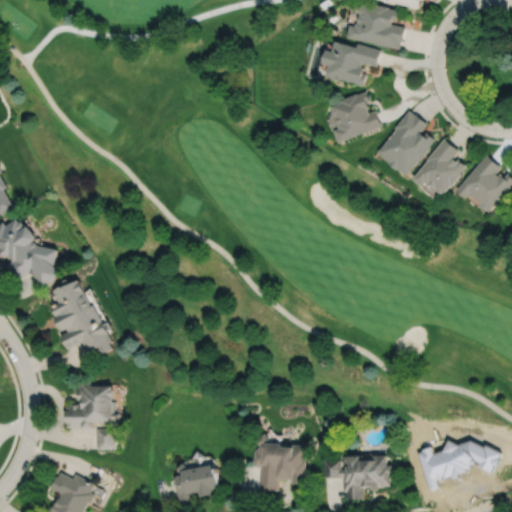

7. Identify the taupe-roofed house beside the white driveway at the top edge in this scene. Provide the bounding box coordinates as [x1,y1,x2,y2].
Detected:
[347,6,406,52]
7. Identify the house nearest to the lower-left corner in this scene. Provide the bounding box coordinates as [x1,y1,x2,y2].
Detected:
[54,472,96,512]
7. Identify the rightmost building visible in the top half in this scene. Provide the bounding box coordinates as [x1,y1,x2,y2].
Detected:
[457,154,512,213]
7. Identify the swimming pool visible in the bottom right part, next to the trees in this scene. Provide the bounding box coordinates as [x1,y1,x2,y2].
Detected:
[365,429,386,447]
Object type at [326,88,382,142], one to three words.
house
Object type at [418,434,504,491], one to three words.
house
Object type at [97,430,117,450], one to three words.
building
